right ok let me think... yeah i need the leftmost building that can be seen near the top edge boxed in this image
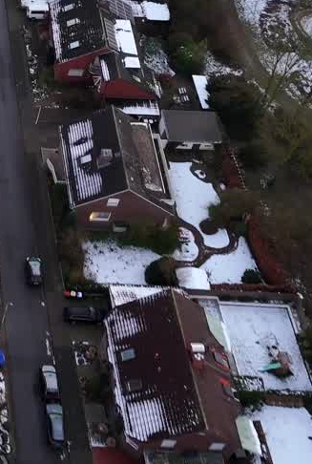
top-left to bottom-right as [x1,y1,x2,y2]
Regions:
[47,0,137,87]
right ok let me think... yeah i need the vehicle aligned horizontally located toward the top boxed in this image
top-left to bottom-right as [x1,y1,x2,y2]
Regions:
[14,1,56,20]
